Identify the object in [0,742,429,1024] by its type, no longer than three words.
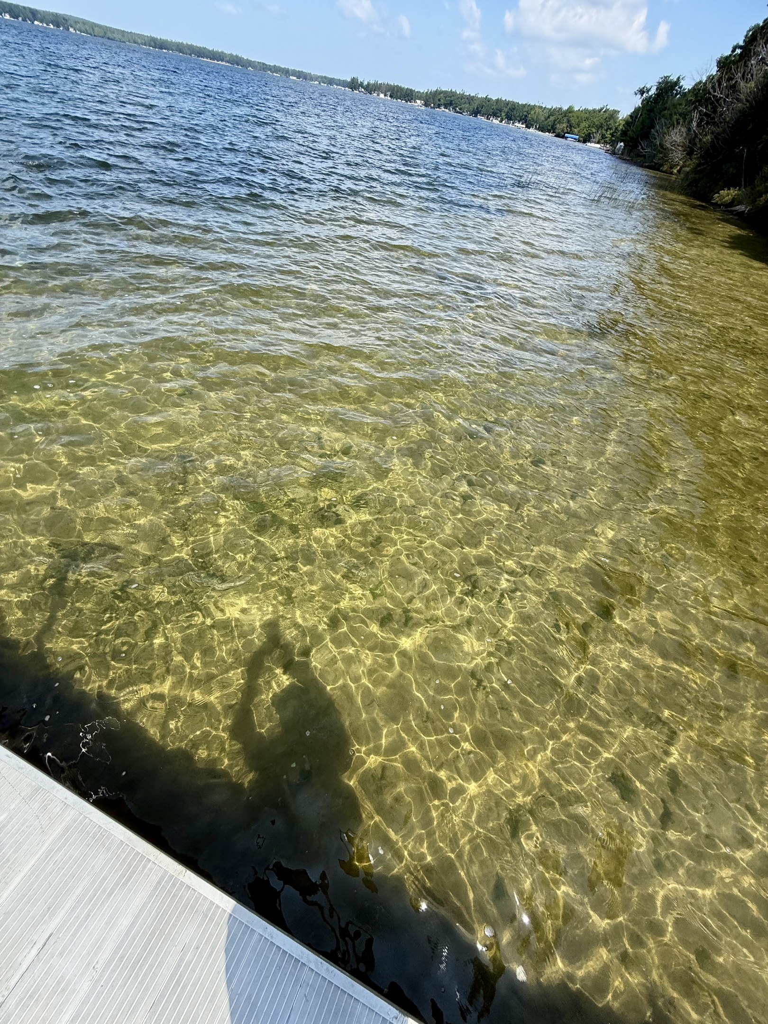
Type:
pier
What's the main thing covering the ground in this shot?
water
